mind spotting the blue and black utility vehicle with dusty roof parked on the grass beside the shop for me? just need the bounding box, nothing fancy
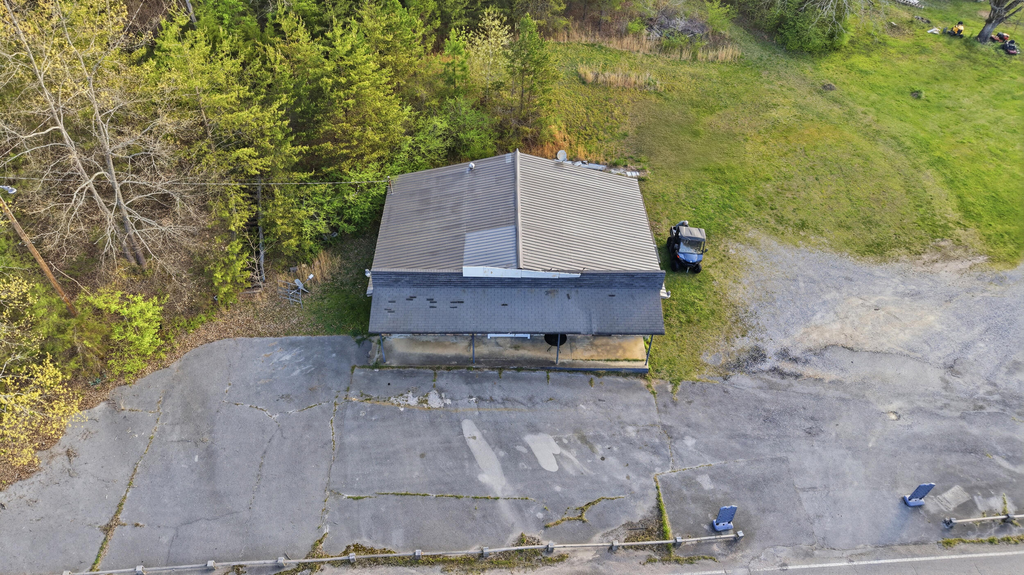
[670,222,712,277]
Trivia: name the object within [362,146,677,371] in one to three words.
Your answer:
building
